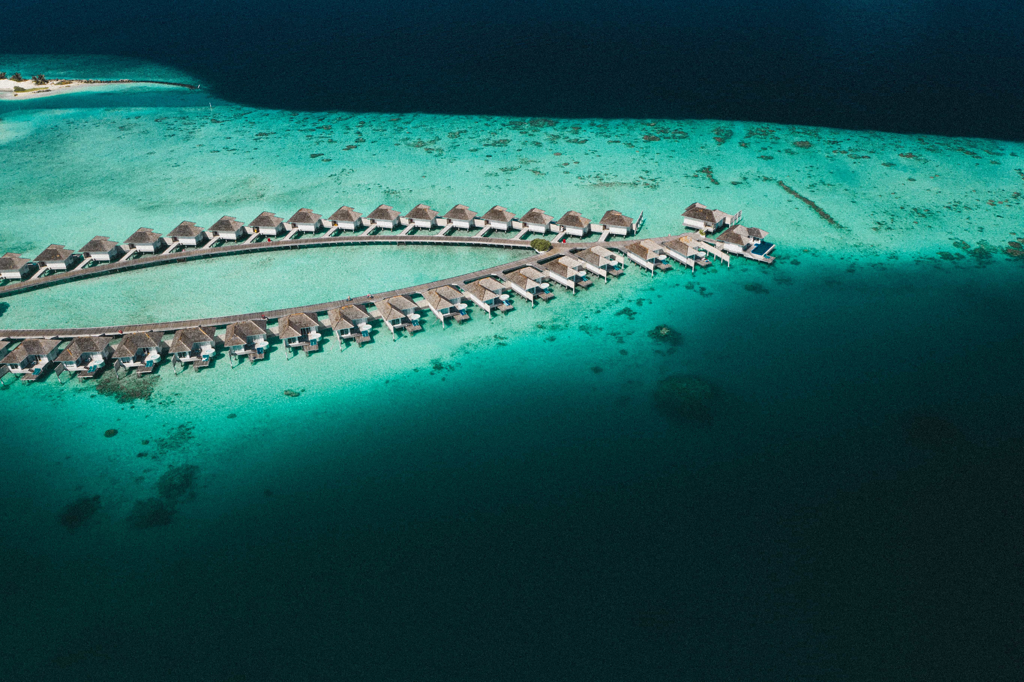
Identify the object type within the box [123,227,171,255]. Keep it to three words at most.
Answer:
house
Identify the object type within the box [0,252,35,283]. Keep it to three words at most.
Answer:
house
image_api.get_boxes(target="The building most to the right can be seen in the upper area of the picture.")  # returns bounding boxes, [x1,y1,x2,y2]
[716,223,775,271]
